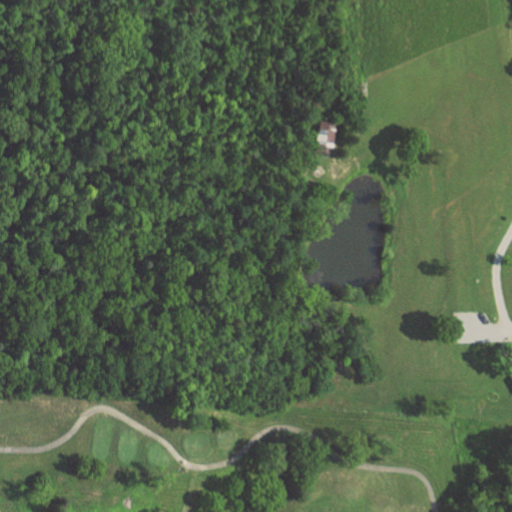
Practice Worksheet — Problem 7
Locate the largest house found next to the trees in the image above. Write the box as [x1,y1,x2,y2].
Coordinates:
[318,121,337,153]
